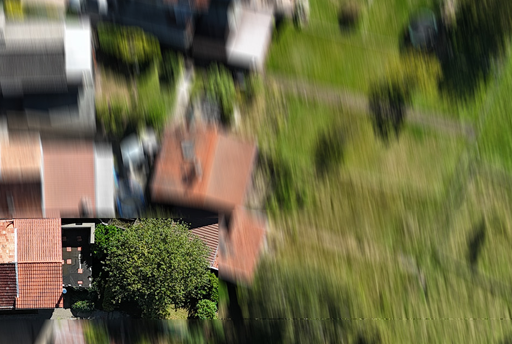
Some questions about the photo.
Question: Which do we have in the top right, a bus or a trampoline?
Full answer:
The feature located in the top right is a trampoline.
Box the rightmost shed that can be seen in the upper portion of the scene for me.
[218,6,274,76]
